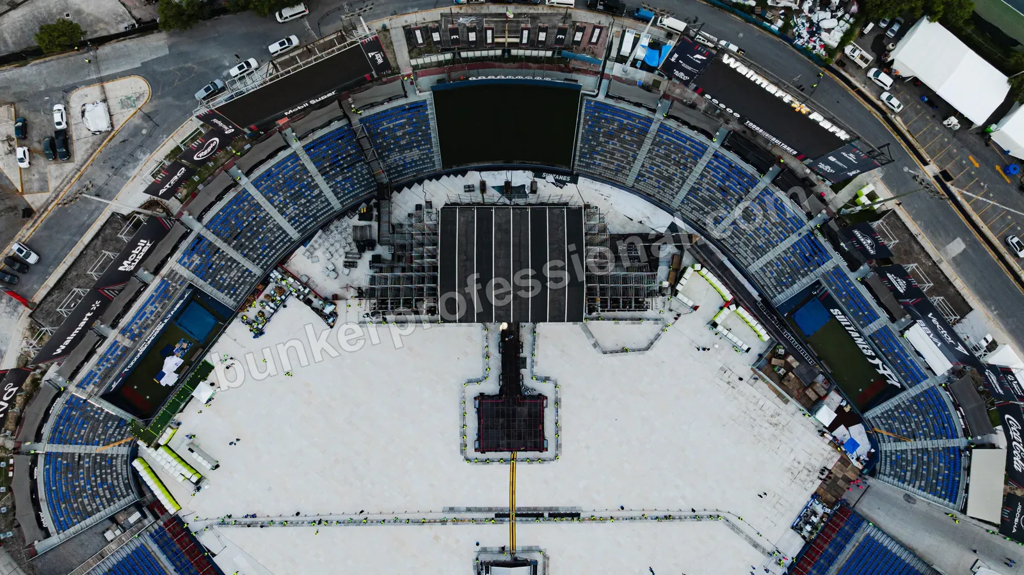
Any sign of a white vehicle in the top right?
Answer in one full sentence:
Yes, I can see a white vehicle in the top right.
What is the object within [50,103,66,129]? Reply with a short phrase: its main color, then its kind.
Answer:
white car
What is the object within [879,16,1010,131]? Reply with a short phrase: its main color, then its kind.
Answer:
white tent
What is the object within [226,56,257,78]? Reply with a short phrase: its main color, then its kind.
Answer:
white car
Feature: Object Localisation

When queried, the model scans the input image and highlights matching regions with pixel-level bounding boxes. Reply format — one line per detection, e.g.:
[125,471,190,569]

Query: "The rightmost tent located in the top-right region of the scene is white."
[976,101,1024,158]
